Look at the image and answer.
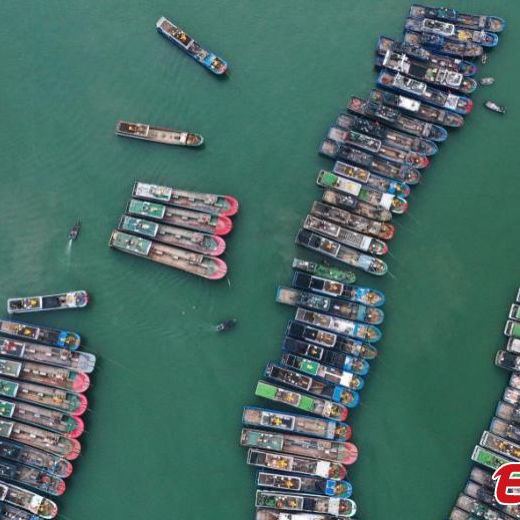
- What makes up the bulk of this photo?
water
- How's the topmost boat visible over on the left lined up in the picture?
diagonally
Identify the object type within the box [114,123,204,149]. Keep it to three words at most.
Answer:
boat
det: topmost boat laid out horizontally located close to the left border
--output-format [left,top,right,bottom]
[8,292,90,314]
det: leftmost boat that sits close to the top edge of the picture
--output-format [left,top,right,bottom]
[155,18,228,75]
